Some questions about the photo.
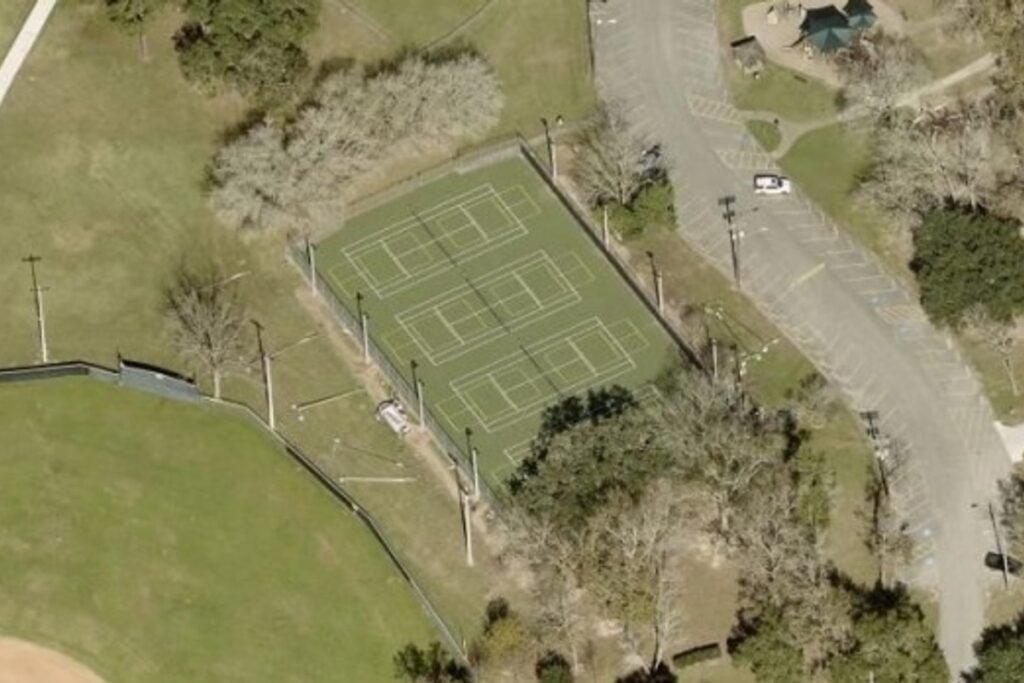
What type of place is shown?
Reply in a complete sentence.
This image shows a sports ground.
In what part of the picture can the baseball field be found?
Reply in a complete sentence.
The baseball field is located in the bottom left region of the scene.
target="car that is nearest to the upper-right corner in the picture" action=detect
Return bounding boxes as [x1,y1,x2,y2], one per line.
[754,178,790,196]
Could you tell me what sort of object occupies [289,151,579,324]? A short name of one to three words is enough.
tennis court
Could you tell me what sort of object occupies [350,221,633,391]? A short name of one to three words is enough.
tennis court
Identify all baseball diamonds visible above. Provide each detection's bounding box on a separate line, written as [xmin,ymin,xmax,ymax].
[0,374,472,683]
